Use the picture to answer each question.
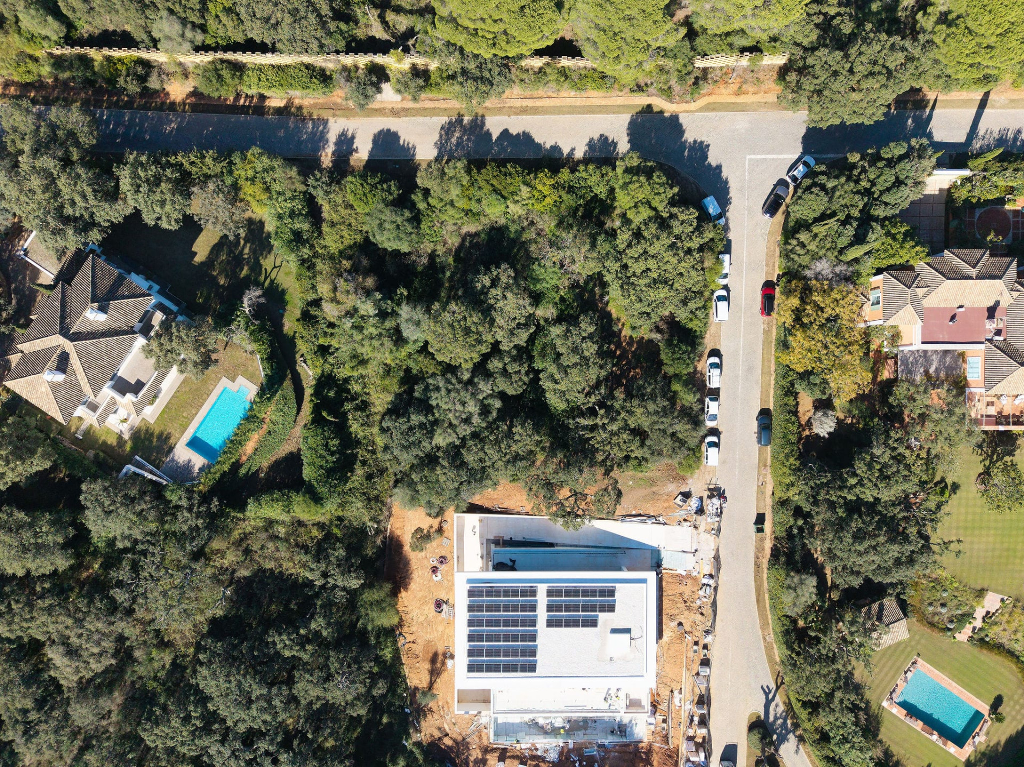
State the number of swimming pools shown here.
2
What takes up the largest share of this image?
trees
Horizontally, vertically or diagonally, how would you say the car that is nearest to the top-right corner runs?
diagonally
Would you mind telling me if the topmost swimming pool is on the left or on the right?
left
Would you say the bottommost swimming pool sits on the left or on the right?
right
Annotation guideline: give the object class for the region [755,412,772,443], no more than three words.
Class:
car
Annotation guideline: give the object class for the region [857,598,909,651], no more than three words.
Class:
shed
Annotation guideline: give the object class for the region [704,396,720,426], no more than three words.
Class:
car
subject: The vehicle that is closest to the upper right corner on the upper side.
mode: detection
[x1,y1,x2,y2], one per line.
[785,156,814,187]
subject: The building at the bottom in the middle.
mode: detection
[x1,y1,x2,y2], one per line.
[456,511,693,742]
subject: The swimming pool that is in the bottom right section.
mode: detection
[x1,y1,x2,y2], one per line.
[881,655,993,762]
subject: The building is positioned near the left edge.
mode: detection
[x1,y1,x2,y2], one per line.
[0,245,195,440]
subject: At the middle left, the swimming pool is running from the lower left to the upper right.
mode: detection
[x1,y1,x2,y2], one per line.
[161,375,256,483]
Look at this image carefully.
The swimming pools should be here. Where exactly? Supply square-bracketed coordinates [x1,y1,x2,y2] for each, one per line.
[161,375,256,483]
[881,655,993,762]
